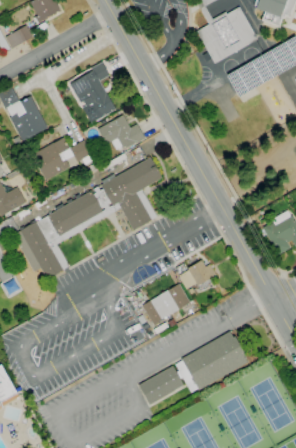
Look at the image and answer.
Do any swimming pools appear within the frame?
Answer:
Yes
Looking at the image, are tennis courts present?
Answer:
Yes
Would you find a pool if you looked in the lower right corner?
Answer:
No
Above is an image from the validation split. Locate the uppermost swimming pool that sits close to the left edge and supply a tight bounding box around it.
[2,278,24,298]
